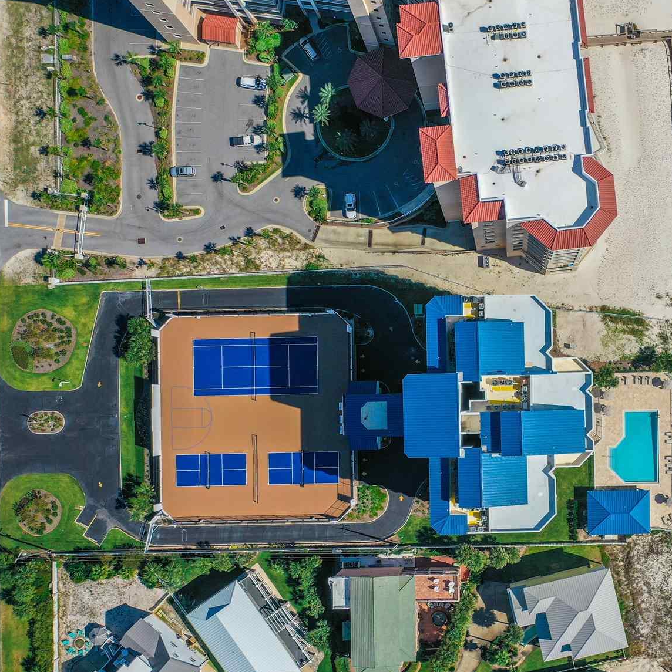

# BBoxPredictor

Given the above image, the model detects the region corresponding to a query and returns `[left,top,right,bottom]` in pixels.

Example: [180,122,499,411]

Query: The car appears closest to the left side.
[170,164,196,177]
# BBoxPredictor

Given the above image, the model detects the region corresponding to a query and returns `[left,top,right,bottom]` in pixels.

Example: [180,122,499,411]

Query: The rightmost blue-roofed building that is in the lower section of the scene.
[586,491,650,539]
